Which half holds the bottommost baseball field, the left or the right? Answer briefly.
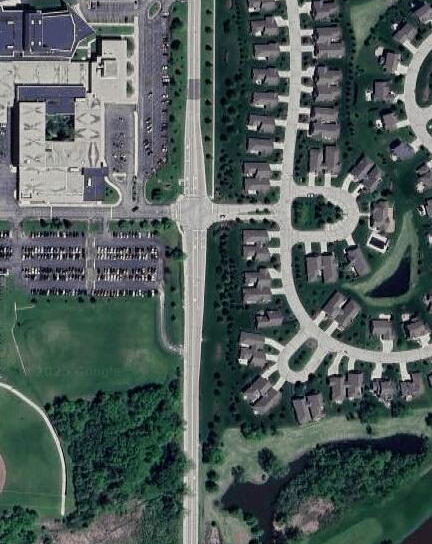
left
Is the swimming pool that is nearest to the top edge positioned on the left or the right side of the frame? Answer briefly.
right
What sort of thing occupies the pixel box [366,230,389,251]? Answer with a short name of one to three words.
swimming pool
